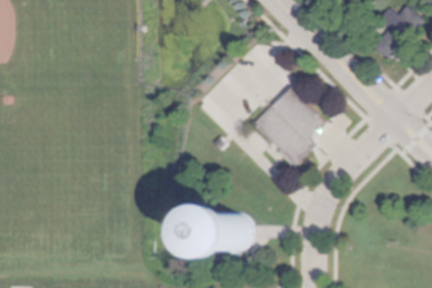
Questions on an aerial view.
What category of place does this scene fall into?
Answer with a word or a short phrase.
sports ground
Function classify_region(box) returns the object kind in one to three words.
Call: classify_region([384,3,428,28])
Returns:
house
